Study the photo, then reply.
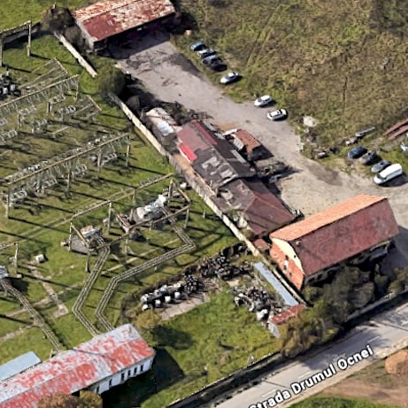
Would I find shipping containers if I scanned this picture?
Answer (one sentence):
No, no shipping container is visible in the view.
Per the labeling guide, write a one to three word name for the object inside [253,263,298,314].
shed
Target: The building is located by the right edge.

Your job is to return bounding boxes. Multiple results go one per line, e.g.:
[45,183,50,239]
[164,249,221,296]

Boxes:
[269,195,399,288]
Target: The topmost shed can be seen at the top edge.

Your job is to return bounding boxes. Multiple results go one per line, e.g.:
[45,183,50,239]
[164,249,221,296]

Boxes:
[73,0,175,54]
